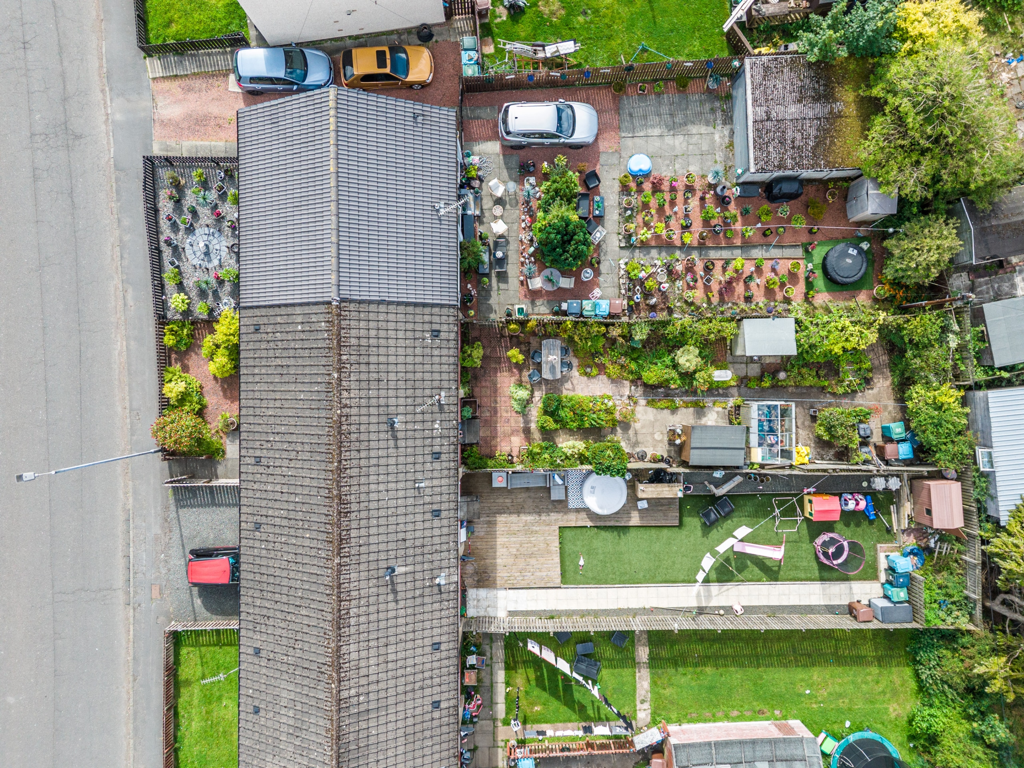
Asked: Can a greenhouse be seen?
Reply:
Yes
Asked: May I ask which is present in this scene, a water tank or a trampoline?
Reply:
trampoline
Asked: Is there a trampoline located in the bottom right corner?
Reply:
Yes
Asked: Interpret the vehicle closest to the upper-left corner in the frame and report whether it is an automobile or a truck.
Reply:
automobile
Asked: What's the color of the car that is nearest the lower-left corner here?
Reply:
red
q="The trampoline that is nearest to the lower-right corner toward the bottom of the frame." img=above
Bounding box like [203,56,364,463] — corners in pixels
[825,725,918,768]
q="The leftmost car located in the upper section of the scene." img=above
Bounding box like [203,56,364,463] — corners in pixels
[235,42,335,97]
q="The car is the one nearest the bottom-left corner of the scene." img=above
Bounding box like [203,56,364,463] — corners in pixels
[190,545,236,592]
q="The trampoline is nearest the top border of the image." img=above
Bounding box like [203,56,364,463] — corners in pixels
[815,533,865,574]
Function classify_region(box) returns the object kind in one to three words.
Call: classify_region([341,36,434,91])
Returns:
car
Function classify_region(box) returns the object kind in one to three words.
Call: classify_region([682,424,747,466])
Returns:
shed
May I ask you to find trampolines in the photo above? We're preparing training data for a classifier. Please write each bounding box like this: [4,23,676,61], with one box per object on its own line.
[815,533,865,574]
[825,725,918,768]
